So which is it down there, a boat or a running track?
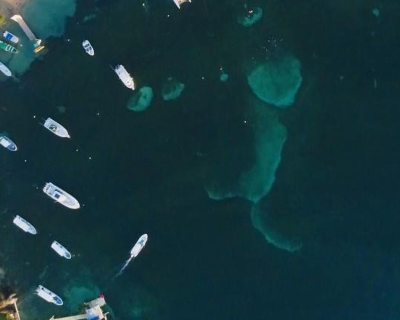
boat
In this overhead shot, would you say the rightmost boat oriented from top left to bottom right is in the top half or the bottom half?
top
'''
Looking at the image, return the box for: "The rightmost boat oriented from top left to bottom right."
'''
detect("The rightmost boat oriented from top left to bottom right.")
[114,61,136,90]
